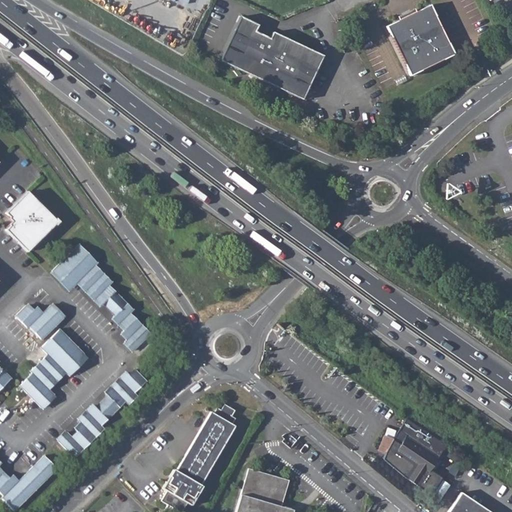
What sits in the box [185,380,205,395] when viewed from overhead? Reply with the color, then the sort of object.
white vehicle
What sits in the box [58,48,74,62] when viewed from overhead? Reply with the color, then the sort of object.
white vehicle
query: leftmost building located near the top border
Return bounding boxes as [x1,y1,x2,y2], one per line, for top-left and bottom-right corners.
[218,16,325,101]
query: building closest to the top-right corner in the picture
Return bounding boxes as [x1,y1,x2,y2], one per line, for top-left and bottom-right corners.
[380,4,456,78]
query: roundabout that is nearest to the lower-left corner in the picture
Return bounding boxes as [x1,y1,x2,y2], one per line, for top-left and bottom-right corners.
[196,314,258,376]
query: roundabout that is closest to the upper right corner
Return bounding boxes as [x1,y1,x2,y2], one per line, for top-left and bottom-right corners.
[354,162,416,224]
